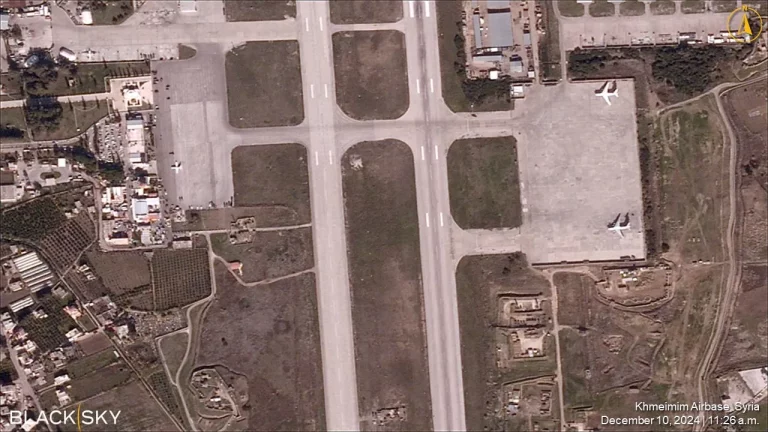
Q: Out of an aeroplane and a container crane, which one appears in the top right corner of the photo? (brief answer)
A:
aeroplane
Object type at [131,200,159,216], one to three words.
building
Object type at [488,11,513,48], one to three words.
building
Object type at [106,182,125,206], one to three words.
house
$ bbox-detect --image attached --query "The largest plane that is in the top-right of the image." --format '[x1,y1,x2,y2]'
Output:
[596,82,619,106]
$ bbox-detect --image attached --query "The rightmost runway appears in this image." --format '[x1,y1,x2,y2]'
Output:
[404,0,466,432]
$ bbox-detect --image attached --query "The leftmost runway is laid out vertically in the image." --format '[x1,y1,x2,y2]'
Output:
[297,0,359,432]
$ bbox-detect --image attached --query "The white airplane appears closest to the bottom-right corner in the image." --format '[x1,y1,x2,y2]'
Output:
[608,216,632,240]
